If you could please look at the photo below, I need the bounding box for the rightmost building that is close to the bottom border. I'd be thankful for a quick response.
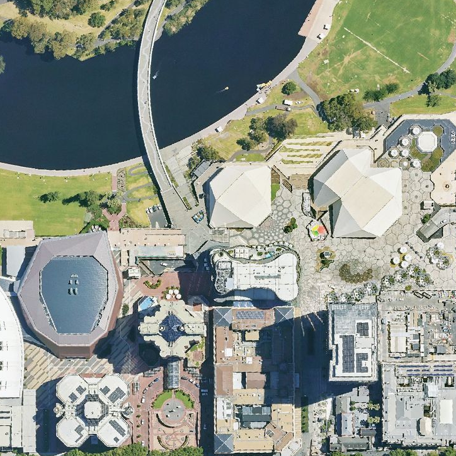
[382,361,456,447]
